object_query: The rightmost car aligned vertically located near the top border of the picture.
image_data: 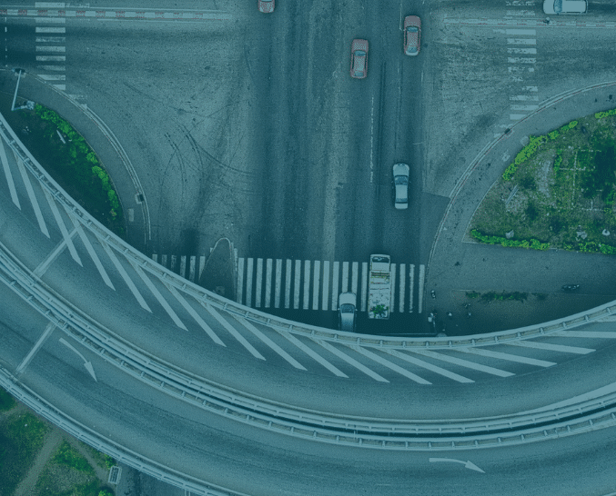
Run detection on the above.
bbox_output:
[403,15,423,56]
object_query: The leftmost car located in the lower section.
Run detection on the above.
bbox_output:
[338,297,357,331]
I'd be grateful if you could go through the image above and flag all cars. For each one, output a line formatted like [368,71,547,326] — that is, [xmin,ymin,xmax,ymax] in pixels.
[391,165,413,209]
[403,15,423,56]
[259,0,275,14]
[544,0,588,16]
[338,297,357,331]
[349,39,369,79]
